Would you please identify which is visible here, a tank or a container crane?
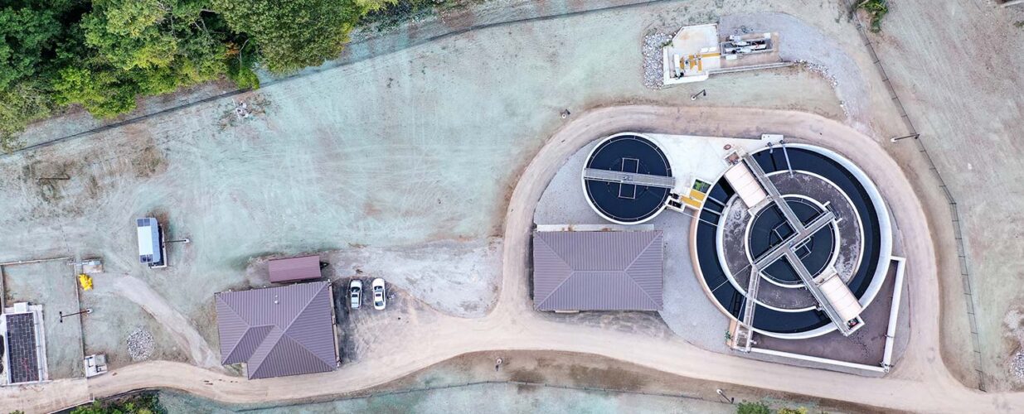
tank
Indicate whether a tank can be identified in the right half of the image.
Yes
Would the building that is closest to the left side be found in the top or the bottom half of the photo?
bottom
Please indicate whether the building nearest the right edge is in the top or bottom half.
bottom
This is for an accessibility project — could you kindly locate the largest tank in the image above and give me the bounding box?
[682,139,891,351]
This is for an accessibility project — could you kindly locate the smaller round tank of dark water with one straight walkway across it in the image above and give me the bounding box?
[581,132,677,224]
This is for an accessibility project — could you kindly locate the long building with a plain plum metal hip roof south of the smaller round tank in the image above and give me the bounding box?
[532,230,664,312]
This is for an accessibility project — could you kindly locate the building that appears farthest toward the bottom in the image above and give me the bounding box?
[214,278,343,381]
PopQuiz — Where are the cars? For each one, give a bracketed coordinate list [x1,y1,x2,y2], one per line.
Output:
[348,280,362,310]
[371,279,385,310]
